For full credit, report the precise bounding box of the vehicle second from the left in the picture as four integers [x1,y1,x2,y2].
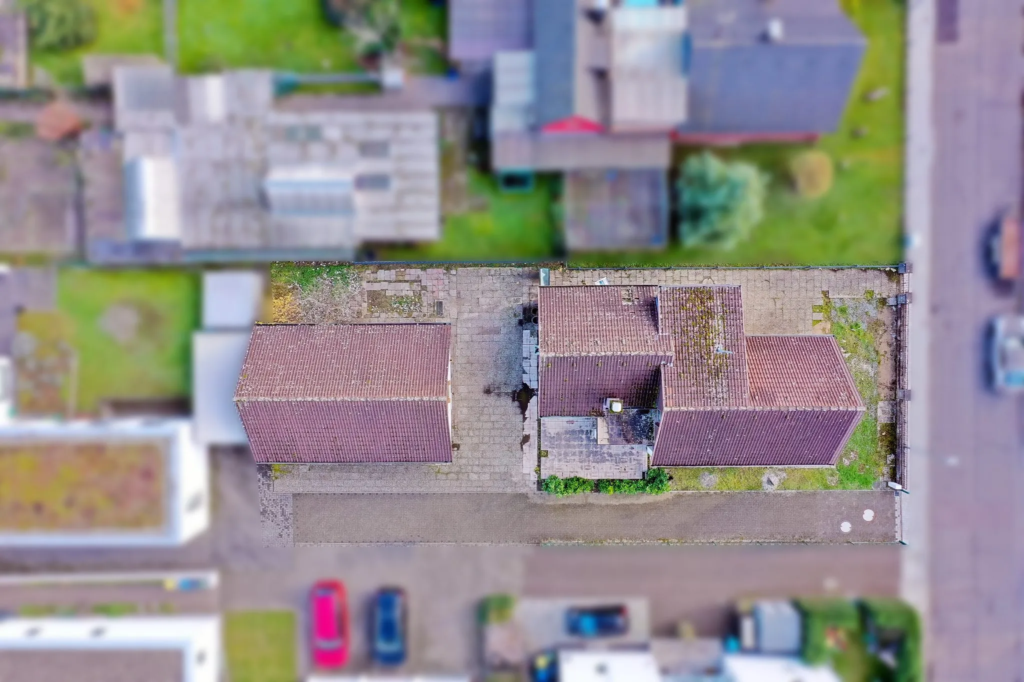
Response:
[367,589,408,670]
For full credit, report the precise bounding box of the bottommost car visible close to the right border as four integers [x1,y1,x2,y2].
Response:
[986,315,1024,396]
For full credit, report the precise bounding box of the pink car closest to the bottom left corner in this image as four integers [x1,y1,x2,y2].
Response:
[302,582,347,673]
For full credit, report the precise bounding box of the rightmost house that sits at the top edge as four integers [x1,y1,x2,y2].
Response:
[671,3,868,144]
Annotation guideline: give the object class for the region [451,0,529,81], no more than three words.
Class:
building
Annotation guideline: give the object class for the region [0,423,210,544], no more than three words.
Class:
house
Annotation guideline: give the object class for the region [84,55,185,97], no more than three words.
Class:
shed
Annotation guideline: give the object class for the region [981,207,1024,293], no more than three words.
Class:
car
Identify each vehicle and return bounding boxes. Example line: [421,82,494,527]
[566,605,629,645]
[302,582,347,673]
[981,207,1024,293]
[367,589,408,670]
[986,315,1024,396]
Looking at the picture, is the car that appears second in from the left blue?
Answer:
Yes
